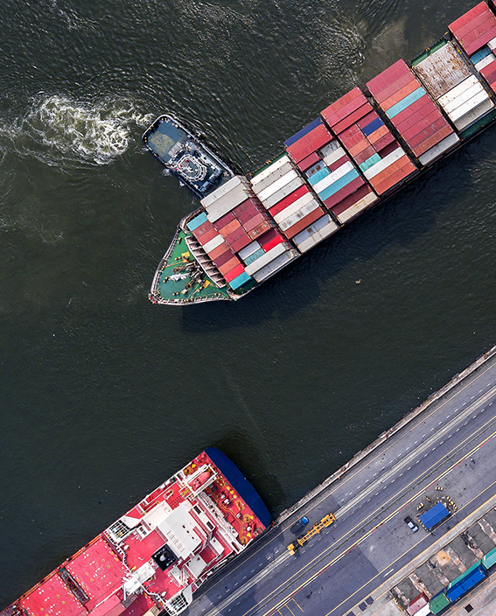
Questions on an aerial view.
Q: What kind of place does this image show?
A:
port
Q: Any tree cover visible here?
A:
No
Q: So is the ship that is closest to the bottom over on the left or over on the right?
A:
left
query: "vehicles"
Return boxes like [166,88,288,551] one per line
[290,516,310,535]
[285,510,339,557]
[403,517,420,533]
